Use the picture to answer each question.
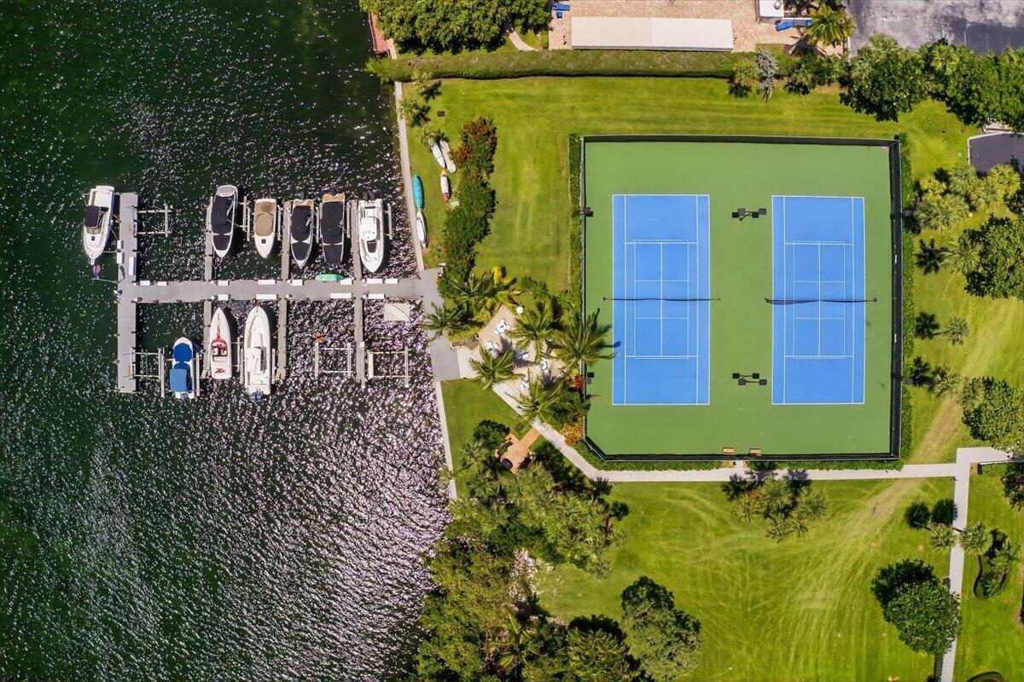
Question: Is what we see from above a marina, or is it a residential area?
marina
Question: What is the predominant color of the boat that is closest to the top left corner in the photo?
white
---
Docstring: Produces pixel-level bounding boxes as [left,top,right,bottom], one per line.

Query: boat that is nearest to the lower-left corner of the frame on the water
[168,338,196,402]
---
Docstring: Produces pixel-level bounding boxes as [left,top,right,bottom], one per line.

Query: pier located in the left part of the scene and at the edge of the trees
[115,193,460,393]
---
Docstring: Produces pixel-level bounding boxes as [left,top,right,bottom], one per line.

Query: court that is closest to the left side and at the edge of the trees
[584,142,741,457]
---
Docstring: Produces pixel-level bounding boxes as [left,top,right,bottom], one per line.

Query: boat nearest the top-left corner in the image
[83,184,119,265]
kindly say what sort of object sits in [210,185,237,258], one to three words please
boat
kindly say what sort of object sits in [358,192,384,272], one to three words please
boat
